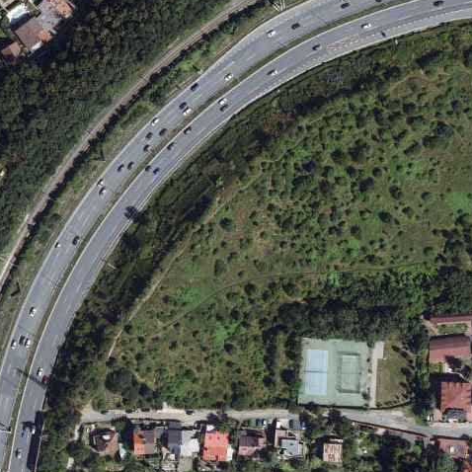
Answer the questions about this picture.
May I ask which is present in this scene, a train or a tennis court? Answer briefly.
tennis court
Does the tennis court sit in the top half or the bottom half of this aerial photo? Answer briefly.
bottom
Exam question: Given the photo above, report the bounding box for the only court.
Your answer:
[298,337,369,408]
